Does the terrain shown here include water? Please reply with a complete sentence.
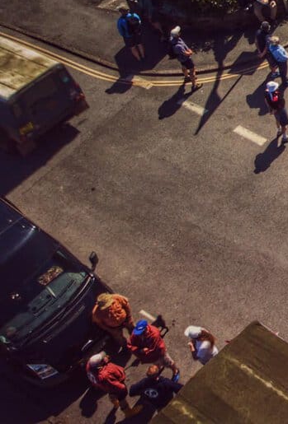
No, there's no water in this view.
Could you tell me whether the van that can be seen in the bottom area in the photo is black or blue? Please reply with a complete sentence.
From above, the van that can be seen in the bottom area appears black.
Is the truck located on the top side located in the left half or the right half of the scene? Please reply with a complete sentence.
The truck located on the top side appears in the left half of the scene.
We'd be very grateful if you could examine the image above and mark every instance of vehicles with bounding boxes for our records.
[0,35,100,175]
[0,245,114,424]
